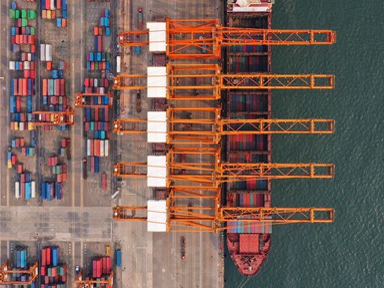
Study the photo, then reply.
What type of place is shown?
port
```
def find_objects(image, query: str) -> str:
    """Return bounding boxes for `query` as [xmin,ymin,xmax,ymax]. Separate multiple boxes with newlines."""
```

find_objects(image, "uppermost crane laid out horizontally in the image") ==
[119,18,337,62]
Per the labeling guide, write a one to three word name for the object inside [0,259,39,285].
container crane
